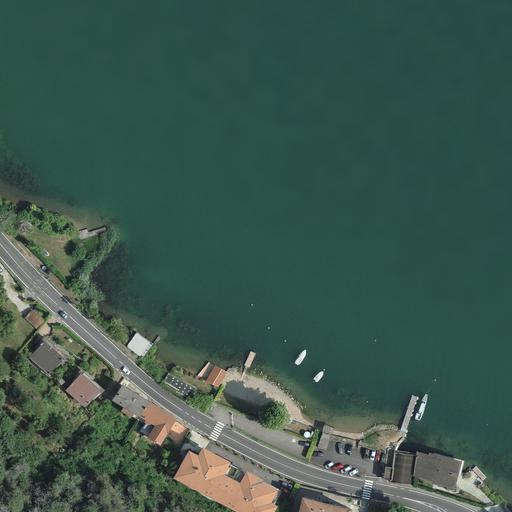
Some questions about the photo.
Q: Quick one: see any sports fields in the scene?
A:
No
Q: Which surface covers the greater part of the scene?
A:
water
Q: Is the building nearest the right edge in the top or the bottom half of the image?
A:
bottom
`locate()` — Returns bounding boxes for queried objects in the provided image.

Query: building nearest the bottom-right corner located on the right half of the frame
[414,452,465,492]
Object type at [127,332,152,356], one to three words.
building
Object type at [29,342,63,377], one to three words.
house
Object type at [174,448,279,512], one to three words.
building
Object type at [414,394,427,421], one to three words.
boat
